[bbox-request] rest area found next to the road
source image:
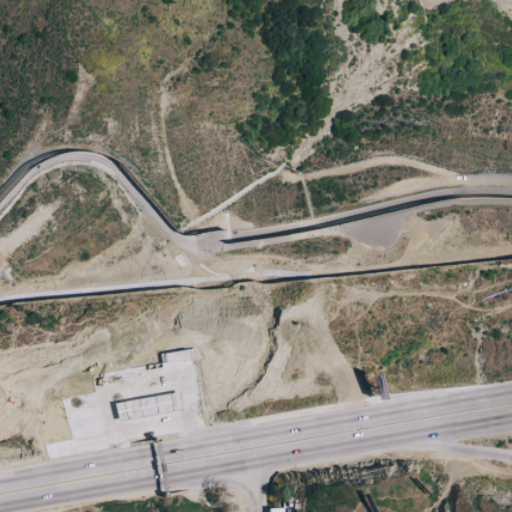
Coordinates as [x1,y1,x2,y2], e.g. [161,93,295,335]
[46,358,246,458]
